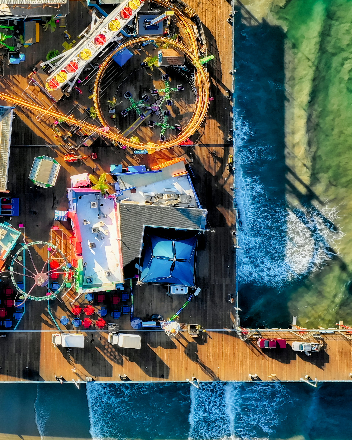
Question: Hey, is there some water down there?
Yes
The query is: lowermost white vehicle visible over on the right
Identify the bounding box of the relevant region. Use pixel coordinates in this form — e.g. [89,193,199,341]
[291,340,321,353]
